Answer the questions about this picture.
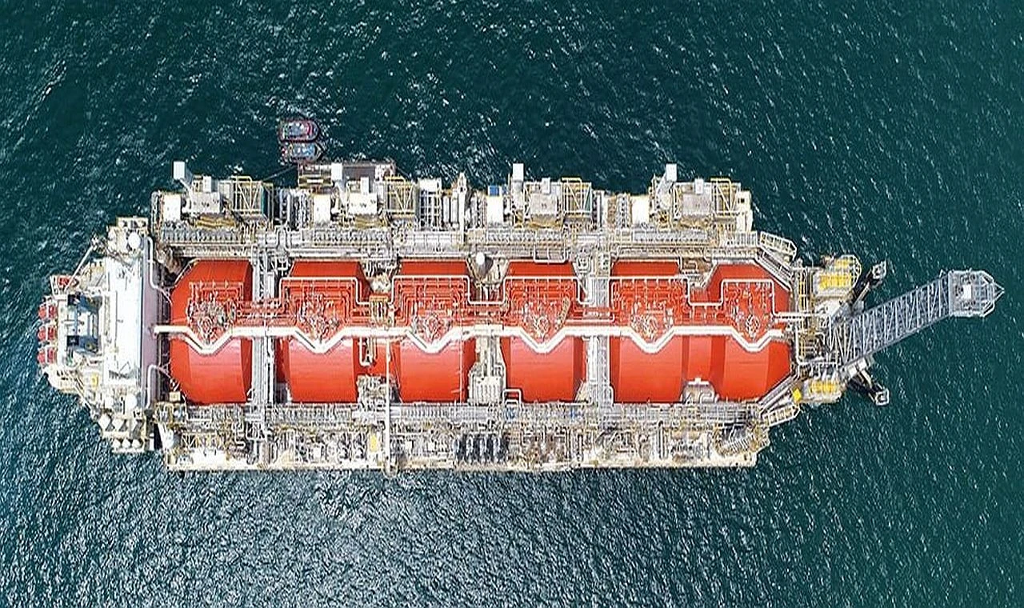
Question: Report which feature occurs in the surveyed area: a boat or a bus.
boat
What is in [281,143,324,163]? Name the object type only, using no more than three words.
boat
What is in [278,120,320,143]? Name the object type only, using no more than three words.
boat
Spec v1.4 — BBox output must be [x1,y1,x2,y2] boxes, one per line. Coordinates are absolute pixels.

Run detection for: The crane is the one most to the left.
[62,240,110,292]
